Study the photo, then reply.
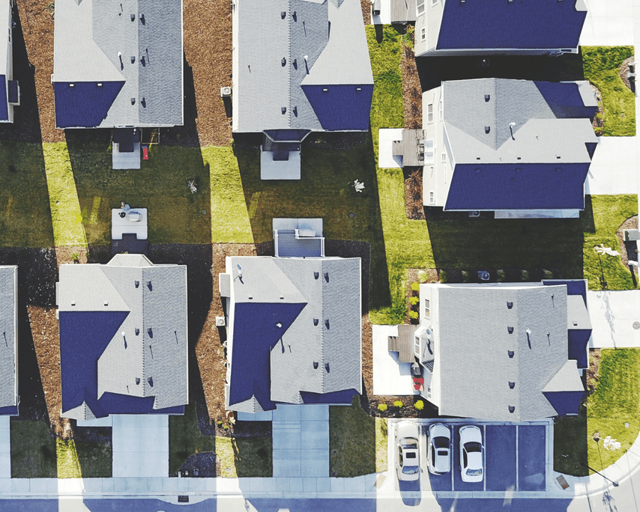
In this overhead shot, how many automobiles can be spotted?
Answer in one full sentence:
Altogether the scene contains 3 automobiles.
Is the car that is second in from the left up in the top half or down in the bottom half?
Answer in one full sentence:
The bottom half of the photo is where the car that is second in from the left is.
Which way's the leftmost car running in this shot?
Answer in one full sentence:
I'd say the leftmost car is aligned from top to bottom in the picture.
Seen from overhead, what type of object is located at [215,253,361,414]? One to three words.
house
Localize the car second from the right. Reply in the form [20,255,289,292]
[428,423,456,475]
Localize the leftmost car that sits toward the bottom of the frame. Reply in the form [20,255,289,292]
[396,422,425,480]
